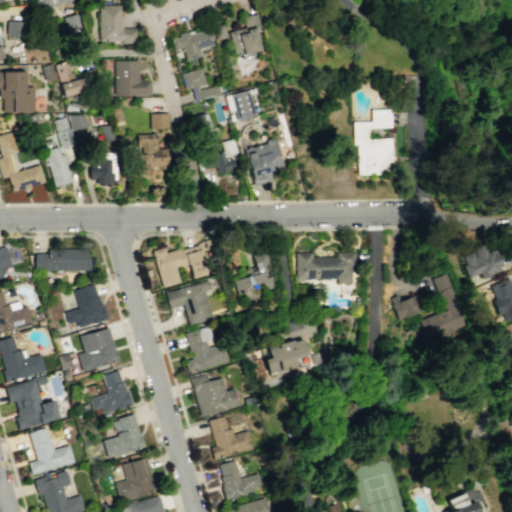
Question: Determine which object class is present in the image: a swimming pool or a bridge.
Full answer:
Looking from above, you can make out a swimming pool.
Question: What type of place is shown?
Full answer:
This image shows a residential area.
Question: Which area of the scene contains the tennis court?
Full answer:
The tennis court is in the bottom right part of the image.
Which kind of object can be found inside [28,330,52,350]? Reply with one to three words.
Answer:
swimming pool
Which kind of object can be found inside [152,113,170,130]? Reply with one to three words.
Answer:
building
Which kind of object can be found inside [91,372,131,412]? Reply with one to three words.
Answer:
house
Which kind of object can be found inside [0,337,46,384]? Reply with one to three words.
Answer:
house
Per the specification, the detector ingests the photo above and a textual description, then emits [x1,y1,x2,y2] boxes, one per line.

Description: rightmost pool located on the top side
[355,90,372,116]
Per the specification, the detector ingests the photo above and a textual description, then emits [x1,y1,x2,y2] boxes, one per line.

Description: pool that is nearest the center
[328,290,351,308]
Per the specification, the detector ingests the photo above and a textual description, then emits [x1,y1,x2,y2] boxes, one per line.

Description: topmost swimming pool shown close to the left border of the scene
[14,284,40,309]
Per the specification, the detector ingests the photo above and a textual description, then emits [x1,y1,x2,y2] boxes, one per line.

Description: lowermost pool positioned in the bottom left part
[52,375,65,397]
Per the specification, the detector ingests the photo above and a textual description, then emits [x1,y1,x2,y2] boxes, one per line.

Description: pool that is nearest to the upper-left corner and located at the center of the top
[214,102,227,123]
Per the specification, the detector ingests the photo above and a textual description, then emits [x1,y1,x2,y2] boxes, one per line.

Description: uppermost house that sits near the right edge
[466,248,508,282]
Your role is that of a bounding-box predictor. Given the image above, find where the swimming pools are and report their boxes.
[415,495,432,512]
[355,90,372,116]
[14,284,40,309]
[328,290,351,308]
[214,102,227,123]
[52,375,65,397]
[28,330,52,350]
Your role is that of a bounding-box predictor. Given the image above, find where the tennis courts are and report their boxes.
[358,461,404,512]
